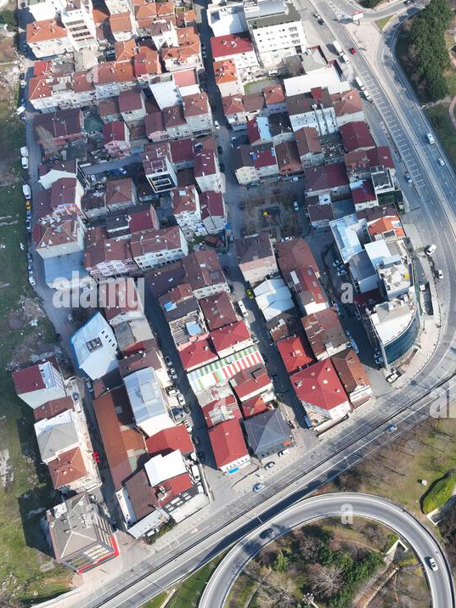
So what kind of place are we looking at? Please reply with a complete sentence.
What you see here is a residential area.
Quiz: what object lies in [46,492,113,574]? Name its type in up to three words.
building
